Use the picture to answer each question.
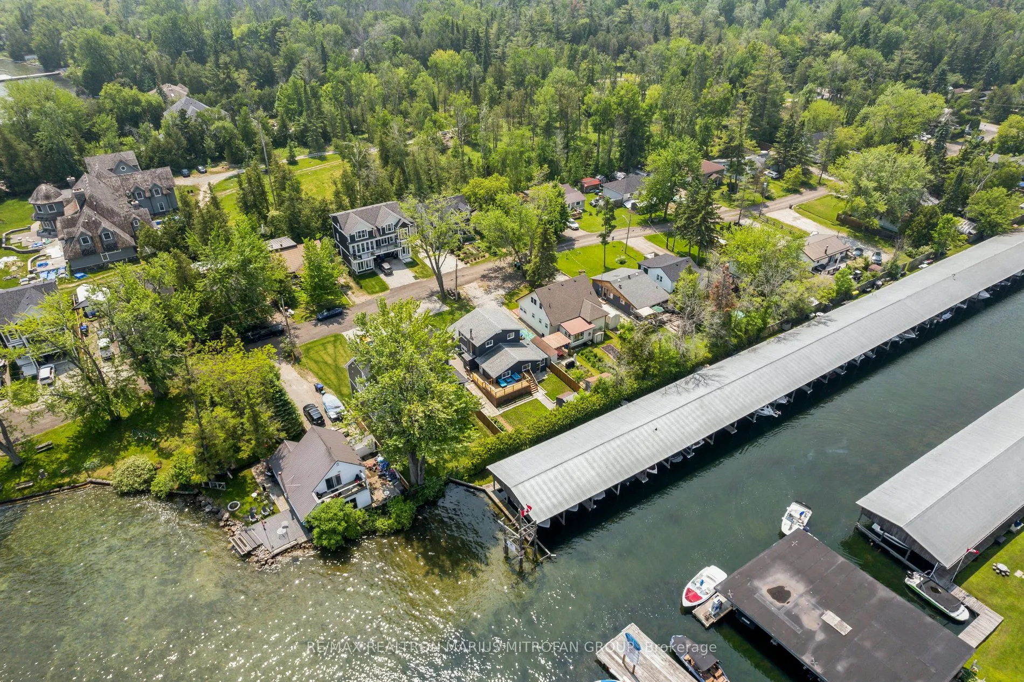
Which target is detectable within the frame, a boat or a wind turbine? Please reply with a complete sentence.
There is a boat in the scene.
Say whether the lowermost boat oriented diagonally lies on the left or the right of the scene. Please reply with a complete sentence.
The lowermost boat oriented diagonally sits on the right side.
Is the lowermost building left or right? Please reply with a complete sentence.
The lowermost building is on the right side of the image.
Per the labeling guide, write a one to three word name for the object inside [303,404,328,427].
car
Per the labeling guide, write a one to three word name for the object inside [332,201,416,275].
house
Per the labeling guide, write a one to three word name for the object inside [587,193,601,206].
vehicle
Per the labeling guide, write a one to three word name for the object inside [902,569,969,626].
boat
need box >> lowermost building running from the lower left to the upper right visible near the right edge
[843,387,1024,585]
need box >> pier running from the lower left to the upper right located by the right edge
[956,607,1004,651]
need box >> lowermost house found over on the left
[268,424,372,523]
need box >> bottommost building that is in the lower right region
[711,527,972,682]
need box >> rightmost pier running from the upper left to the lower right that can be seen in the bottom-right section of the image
[934,579,986,616]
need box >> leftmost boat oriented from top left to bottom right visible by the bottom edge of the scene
[674,636,726,682]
